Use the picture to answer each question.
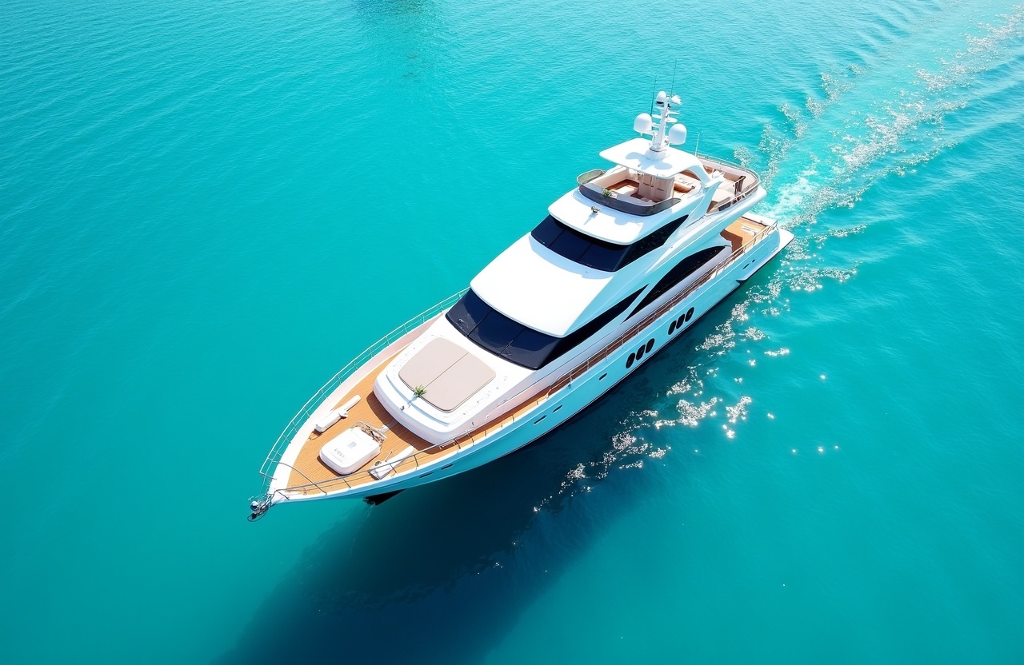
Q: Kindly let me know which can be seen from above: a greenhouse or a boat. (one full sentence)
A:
This aerial view contains a boat.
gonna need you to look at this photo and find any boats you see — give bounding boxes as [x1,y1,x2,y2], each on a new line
[247,55,790,527]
